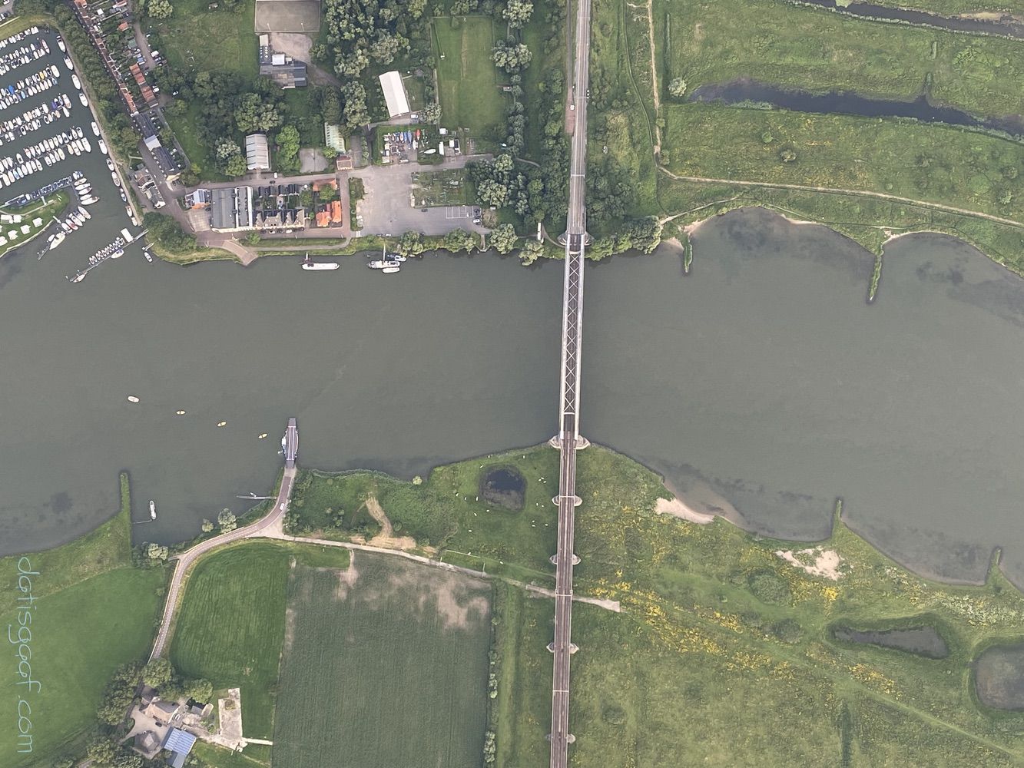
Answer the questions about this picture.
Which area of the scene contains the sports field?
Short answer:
top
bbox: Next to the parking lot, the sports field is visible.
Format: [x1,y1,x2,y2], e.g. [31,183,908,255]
[435,17,505,132]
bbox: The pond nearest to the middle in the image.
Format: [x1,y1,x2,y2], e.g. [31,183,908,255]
[481,466,525,510]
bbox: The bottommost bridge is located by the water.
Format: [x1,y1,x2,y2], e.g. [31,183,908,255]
[544,232,593,768]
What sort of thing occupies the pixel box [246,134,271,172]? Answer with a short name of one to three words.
building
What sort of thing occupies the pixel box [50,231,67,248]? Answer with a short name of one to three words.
boat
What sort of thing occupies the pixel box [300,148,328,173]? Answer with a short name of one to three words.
basketball court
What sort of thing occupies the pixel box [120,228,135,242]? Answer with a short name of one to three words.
boat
